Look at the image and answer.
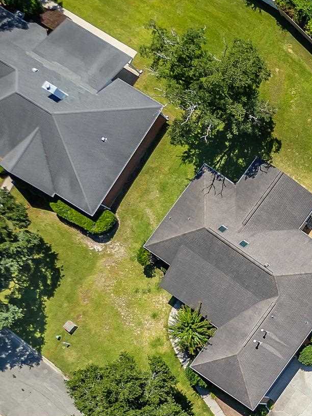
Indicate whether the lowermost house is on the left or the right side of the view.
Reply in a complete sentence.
The lowermost house appears in the right half of the scene.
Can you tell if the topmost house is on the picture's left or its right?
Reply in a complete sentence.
The topmost house sits on the left side.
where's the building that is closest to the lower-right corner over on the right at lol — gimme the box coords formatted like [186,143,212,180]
[144,156,312,411]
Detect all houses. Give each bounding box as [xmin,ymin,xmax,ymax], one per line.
[144,156,312,411]
[0,7,170,217]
